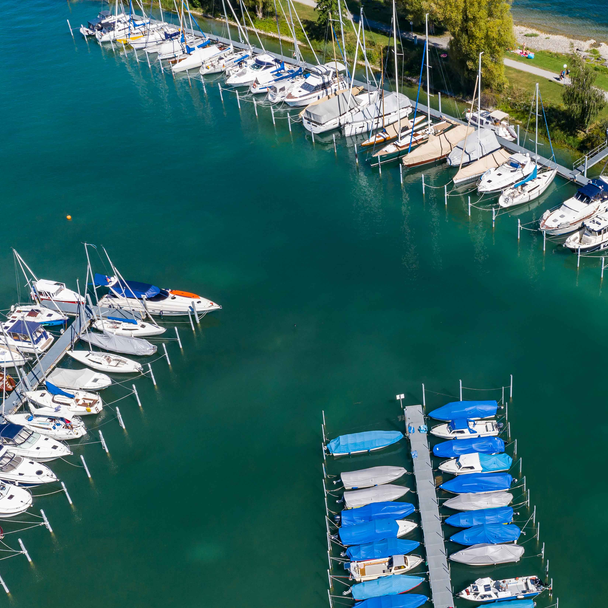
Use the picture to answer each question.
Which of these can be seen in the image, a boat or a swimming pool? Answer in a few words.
boat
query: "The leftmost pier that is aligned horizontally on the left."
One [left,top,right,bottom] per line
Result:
[36,303,97,319]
